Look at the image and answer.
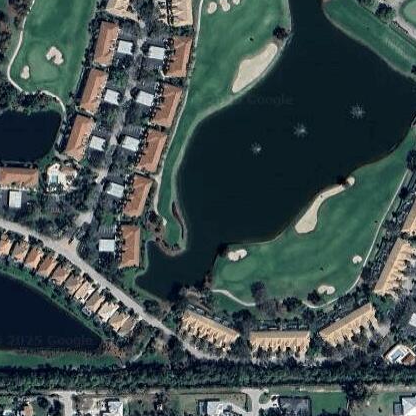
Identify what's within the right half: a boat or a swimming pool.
swimming pool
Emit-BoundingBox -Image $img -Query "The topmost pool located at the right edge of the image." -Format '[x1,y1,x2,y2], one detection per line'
[385,344,416,363]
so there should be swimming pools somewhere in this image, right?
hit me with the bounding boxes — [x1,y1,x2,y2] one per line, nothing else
[385,344,416,363]
[393,403,401,414]
[48,163,77,191]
